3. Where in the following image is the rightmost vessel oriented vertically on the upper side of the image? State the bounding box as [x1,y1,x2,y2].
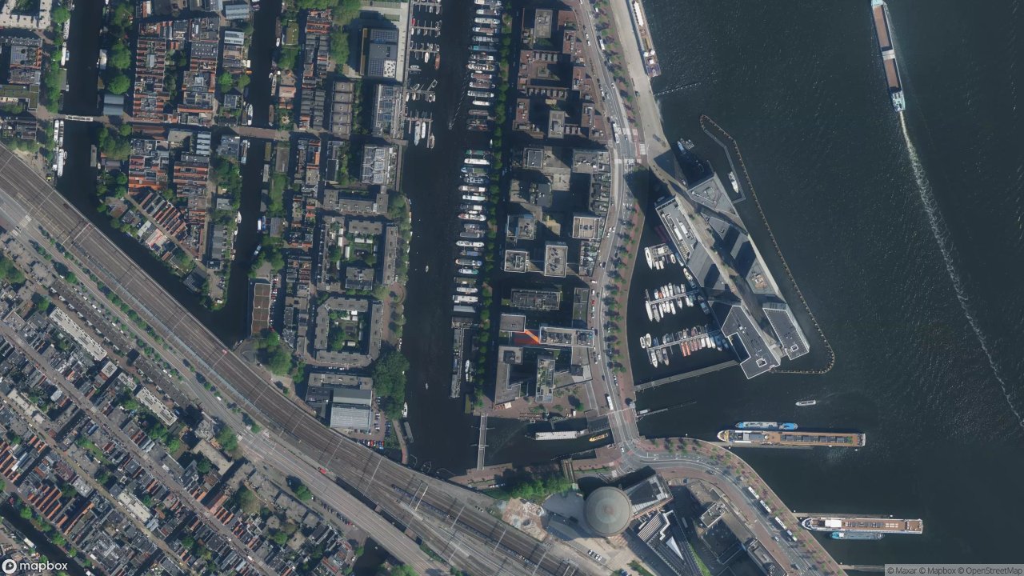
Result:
[871,0,906,112]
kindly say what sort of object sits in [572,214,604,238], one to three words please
building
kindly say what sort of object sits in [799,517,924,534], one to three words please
ship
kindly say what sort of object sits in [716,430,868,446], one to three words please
ship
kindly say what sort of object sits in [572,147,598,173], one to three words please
building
